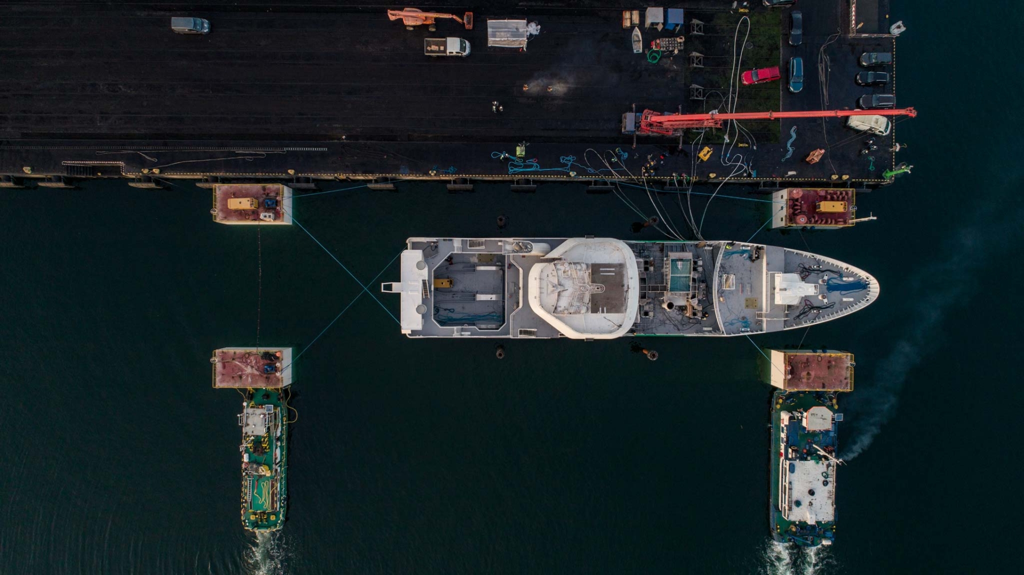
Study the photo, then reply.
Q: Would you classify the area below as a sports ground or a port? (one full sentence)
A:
The picture captures a port.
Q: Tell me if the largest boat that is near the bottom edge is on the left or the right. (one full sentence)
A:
The largest boat that is near the bottom edge sits on the right side.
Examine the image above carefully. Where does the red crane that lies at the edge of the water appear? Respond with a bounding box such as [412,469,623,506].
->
[622,103,919,153]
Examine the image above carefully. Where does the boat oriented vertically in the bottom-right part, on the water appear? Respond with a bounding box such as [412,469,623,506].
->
[769,389,846,547]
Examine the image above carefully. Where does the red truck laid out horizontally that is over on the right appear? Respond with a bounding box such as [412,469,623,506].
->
[741,64,785,85]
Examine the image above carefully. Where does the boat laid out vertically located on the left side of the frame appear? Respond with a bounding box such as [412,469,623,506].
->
[236,388,290,532]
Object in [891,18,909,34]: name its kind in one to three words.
boat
